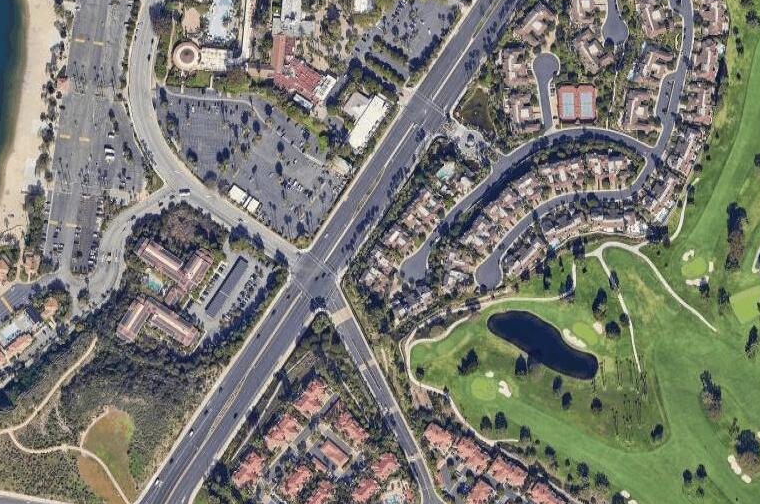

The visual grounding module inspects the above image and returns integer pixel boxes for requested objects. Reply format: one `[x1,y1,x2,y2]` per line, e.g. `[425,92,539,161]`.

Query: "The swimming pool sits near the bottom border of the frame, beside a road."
[383,482,408,504]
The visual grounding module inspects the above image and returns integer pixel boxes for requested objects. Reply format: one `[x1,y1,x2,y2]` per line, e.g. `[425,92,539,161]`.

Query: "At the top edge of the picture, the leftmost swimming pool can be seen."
[207,0,234,41]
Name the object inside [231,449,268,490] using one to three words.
house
